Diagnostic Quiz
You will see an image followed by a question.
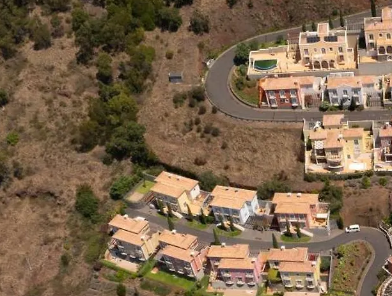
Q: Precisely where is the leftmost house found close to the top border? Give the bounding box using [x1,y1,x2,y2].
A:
[247,11,358,86]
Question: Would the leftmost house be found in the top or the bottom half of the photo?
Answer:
bottom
